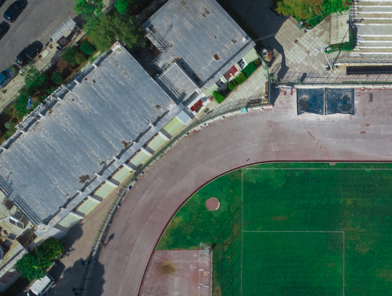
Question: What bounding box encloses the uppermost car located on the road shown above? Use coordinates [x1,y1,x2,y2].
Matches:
[0,0,24,20]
